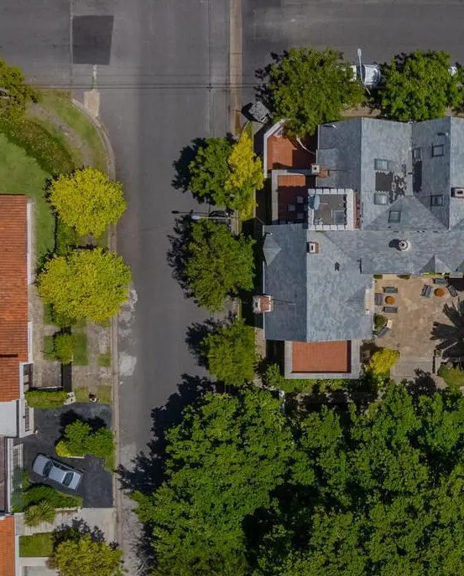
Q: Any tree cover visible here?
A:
Yes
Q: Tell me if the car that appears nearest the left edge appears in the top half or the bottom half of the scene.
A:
bottom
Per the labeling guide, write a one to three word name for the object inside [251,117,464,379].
house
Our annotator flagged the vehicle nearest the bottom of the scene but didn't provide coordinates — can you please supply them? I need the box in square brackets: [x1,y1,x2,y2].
[30,452,85,492]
